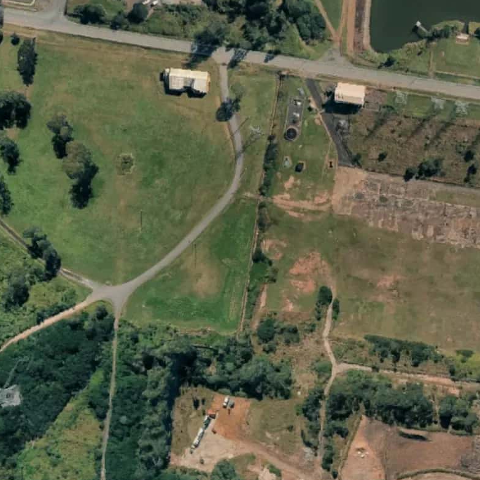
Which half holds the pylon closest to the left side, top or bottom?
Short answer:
bottom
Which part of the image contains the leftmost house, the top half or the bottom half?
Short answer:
top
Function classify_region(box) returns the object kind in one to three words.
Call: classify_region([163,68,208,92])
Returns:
house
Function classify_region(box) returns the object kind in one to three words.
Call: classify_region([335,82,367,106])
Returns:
shed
